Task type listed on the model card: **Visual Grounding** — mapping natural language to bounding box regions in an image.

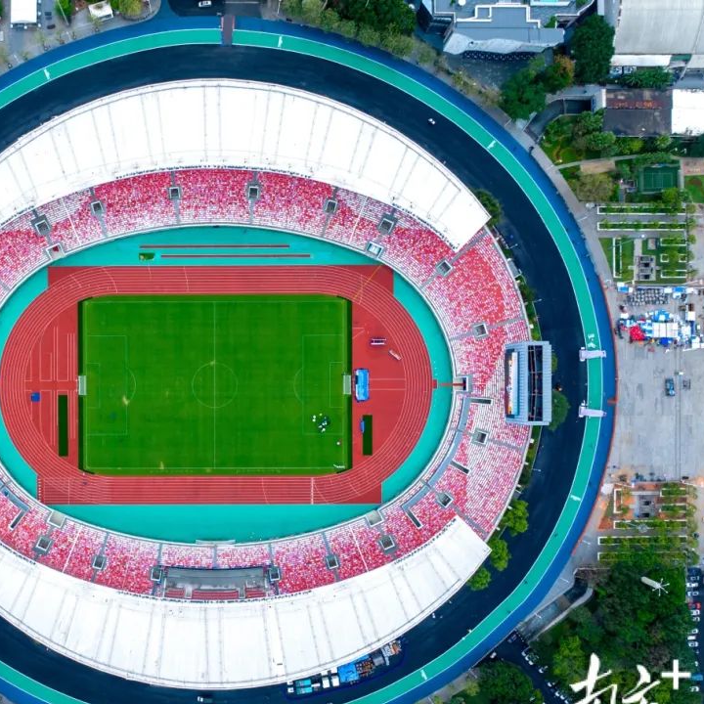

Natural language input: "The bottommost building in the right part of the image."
[637,495,658,518]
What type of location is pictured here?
sports ground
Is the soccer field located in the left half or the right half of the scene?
left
